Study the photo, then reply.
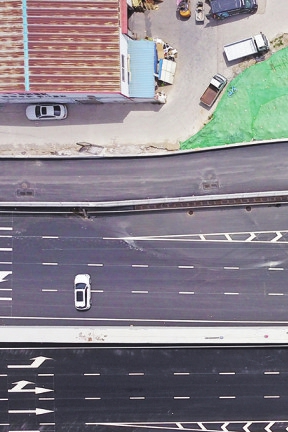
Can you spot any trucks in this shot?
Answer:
Yes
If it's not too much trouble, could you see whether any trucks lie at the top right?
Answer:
Yes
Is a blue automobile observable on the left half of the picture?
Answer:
No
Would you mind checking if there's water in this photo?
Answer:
No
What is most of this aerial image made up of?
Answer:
paved ground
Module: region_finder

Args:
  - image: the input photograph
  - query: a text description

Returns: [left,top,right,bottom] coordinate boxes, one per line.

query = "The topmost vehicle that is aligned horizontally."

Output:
[205,0,260,23]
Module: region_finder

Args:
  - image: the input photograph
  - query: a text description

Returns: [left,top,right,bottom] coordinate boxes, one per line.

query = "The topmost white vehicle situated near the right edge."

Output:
[221,31,274,63]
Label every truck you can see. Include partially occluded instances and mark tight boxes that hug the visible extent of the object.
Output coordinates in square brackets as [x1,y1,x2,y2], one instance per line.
[221,31,274,63]
[205,0,260,23]
[199,74,227,108]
